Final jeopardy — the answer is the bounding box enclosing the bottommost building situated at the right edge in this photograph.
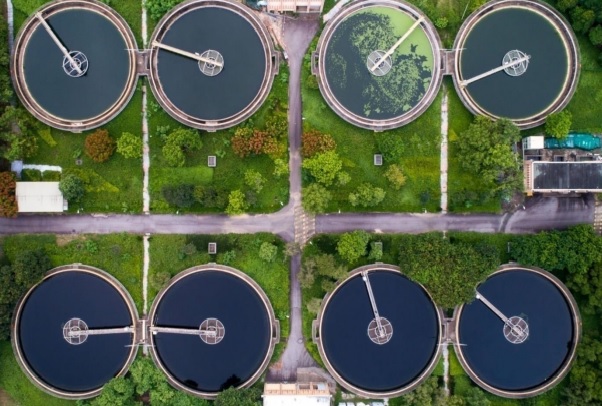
[517,162,602,194]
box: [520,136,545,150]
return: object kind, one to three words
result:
shed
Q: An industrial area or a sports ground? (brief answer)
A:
industrial area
